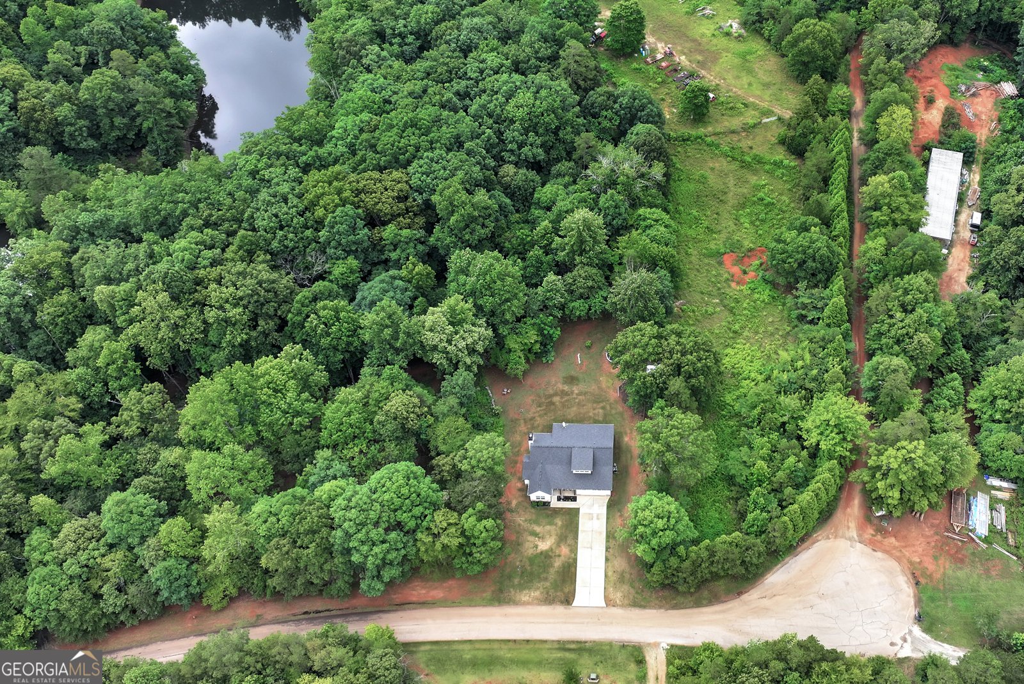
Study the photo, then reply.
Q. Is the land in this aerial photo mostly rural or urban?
rural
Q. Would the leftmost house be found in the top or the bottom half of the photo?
bottom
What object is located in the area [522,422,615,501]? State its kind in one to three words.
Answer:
house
